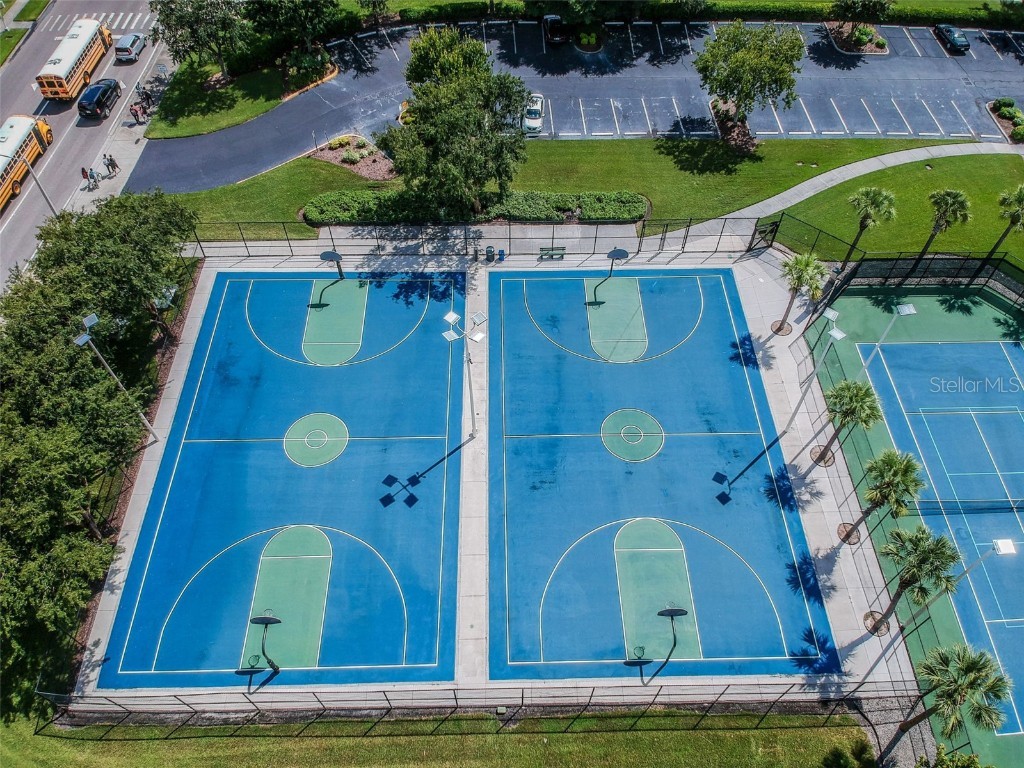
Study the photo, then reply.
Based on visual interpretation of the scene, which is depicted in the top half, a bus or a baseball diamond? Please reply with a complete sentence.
The feature located in the top half is a bus.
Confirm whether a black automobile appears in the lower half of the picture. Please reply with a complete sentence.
No, I see no black automobile in the lower half of the picture.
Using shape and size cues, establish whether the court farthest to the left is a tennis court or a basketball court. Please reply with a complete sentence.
I'd say the court farthest to the left is a basketball court.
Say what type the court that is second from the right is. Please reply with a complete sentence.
In the photo, the court that is second from the right shows up as a basketball court.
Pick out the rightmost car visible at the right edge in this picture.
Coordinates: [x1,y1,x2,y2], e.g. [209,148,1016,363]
[937,22,974,52]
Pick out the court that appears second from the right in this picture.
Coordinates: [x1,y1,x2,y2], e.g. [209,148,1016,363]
[488,269,843,680]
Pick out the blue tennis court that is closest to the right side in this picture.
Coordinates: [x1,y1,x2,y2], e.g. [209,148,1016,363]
[804,286,1024,768]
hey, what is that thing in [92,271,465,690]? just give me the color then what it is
blue basketball court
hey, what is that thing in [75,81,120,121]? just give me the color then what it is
black car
